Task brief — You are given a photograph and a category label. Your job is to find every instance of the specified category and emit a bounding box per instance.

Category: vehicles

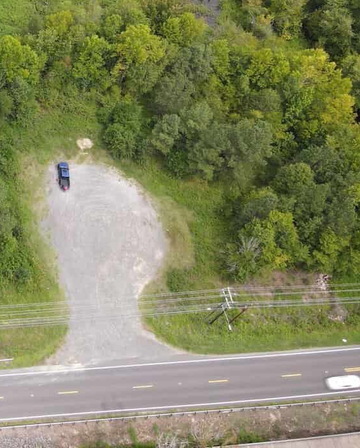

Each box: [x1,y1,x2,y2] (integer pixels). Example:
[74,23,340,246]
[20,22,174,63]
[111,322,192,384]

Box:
[57,165,72,192]
[326,374,359,390]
